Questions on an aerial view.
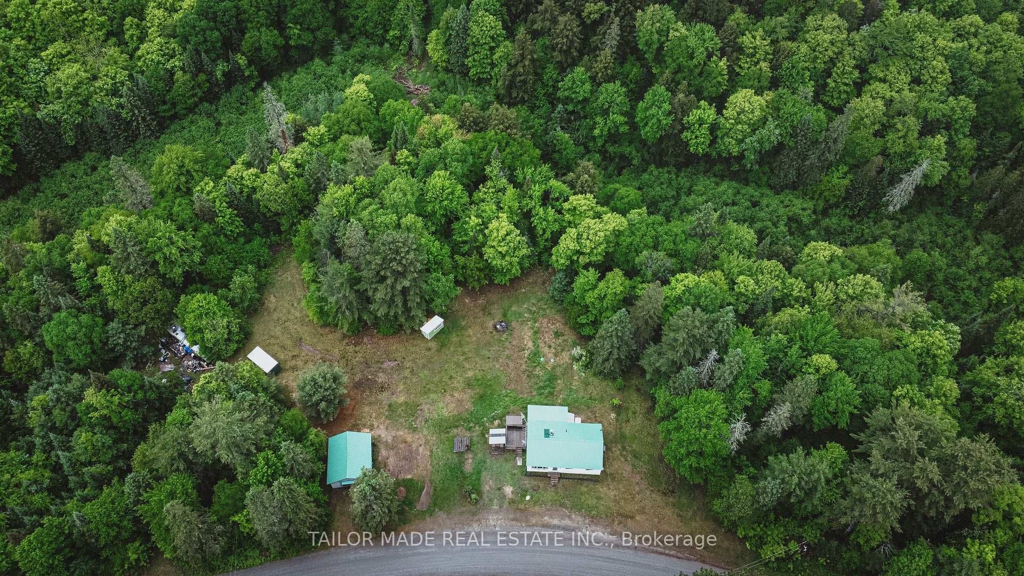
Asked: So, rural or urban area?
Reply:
rural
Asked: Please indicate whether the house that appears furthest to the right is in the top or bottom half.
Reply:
bottom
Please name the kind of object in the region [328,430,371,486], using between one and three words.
building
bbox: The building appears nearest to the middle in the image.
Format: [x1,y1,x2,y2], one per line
[422,314,445,340]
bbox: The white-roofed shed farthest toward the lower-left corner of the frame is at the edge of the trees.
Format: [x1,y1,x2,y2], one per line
[248,346,282,373]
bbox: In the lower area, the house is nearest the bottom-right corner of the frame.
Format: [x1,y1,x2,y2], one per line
[527,405,605,489]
